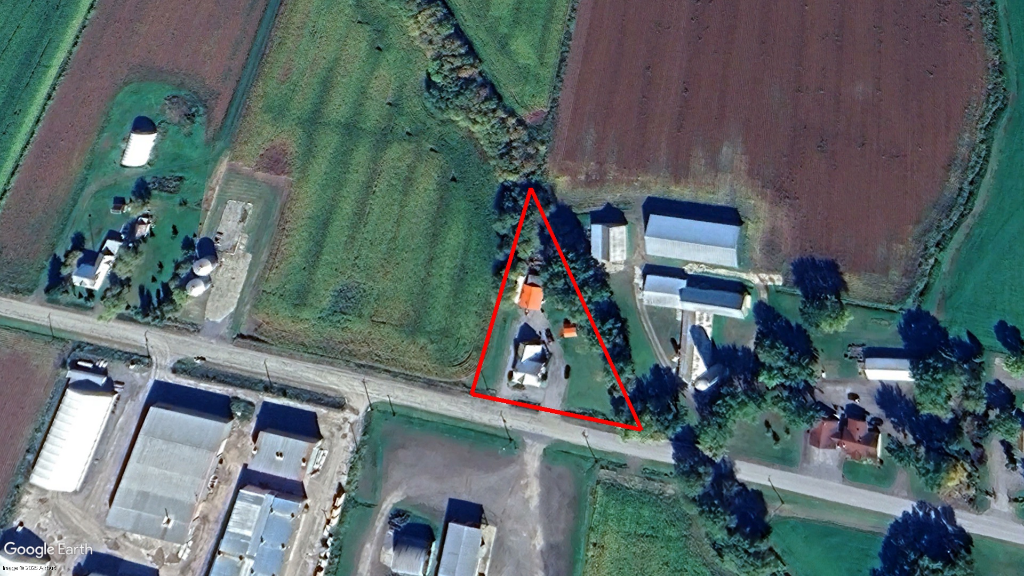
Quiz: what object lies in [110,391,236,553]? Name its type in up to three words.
barn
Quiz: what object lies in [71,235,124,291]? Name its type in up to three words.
house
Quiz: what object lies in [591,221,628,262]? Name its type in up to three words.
shed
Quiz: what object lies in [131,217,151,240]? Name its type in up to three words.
building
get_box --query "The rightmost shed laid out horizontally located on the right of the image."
[864,357,918,381]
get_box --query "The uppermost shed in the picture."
[123,128,157,170]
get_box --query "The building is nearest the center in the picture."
[518,273,546,311]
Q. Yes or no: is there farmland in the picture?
Yes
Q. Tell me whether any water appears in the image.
No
